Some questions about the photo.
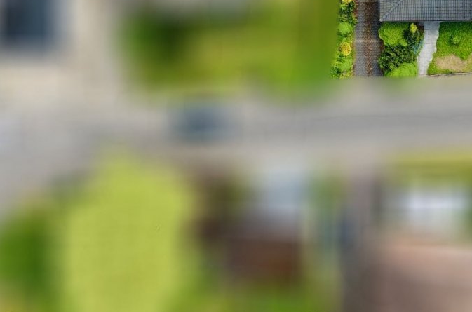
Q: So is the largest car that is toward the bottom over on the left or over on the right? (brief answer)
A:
right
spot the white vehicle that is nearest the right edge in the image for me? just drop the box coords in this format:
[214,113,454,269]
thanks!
[403,183,470,217]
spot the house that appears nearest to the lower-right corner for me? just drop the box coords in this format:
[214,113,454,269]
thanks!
[376,230,472,312]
